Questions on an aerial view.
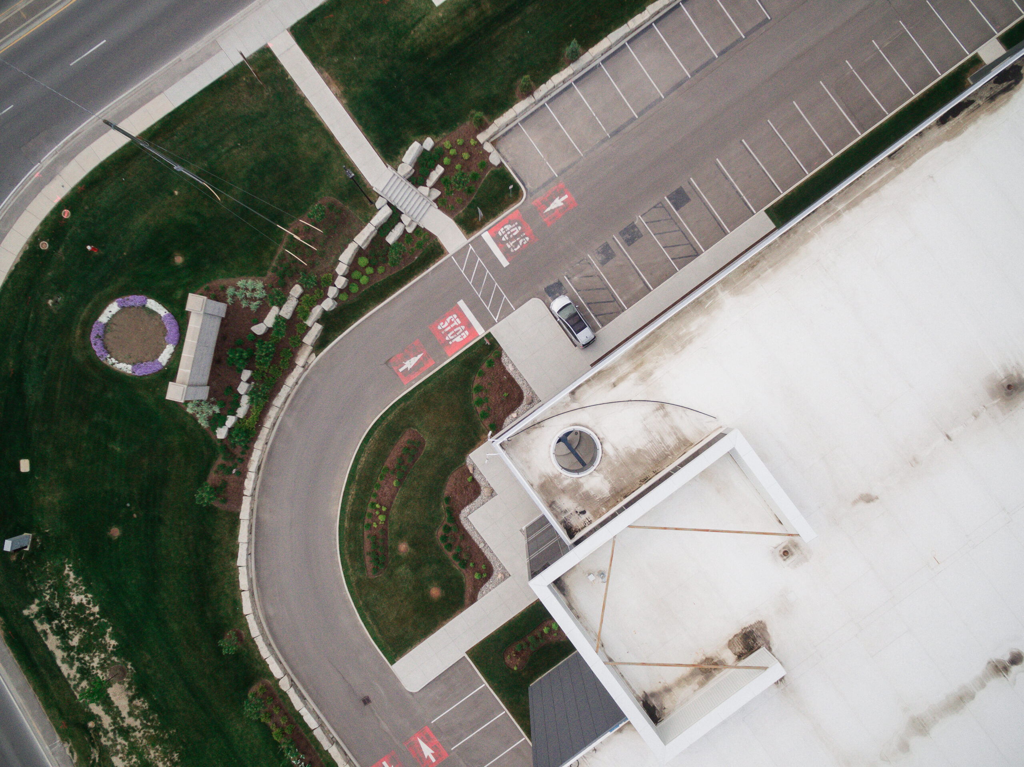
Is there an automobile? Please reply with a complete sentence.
Yes, an automobile can be made out from above.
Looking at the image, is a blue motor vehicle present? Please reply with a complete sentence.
No, no blue motor vehicle can be seen from above.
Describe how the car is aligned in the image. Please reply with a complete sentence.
I'd say the car is aligned diagonally in the picture.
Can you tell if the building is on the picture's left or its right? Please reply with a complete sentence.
The building is on the right side of the image.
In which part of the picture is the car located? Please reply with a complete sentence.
The car is in the center part of the image.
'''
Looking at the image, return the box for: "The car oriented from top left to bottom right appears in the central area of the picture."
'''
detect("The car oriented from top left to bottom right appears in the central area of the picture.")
[550,295,597,351]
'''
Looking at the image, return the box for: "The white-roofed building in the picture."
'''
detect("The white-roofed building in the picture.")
[484,35,1024,767]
